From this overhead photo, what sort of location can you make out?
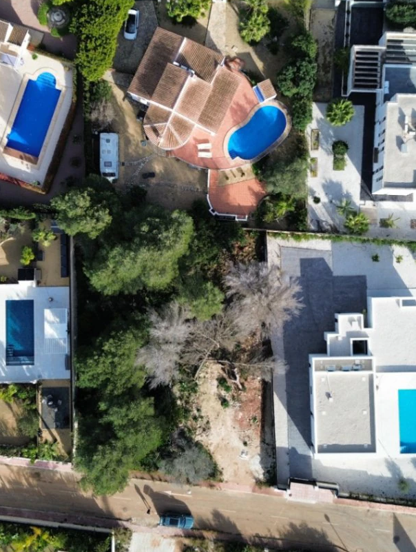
residential area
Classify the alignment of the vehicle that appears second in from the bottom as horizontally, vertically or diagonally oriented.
vertically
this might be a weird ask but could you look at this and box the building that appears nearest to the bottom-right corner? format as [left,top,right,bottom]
[307,296,416,454]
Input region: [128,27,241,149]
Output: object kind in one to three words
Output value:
house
